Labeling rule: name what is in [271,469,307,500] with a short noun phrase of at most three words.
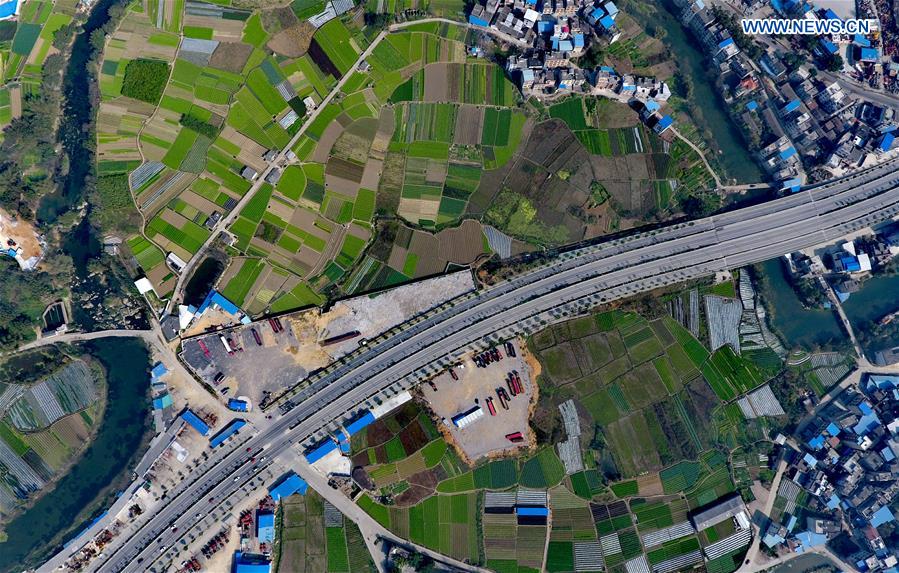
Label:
shed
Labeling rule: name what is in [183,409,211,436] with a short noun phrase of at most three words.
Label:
shed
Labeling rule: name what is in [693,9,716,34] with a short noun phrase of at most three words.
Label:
house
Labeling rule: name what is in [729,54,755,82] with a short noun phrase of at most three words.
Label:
house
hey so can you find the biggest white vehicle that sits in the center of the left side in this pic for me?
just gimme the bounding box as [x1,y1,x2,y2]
[219,334,234,355]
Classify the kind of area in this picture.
residential area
